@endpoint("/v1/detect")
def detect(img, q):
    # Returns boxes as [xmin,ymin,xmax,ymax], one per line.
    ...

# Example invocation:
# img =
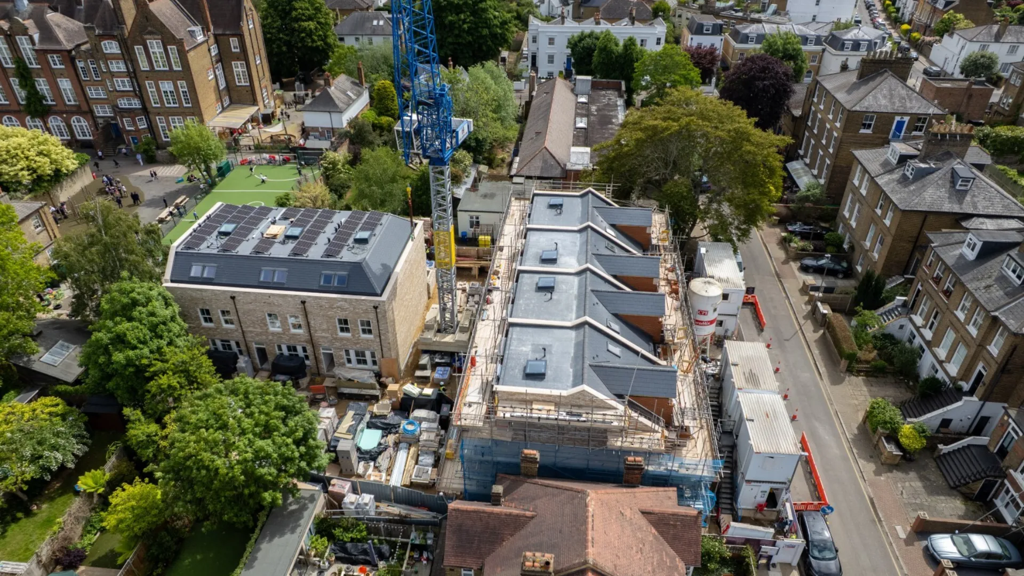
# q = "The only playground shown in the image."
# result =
[12,78,306,276]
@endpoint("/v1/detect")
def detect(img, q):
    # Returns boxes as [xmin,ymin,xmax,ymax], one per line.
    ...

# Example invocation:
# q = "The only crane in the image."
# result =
[389,0,495,356]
